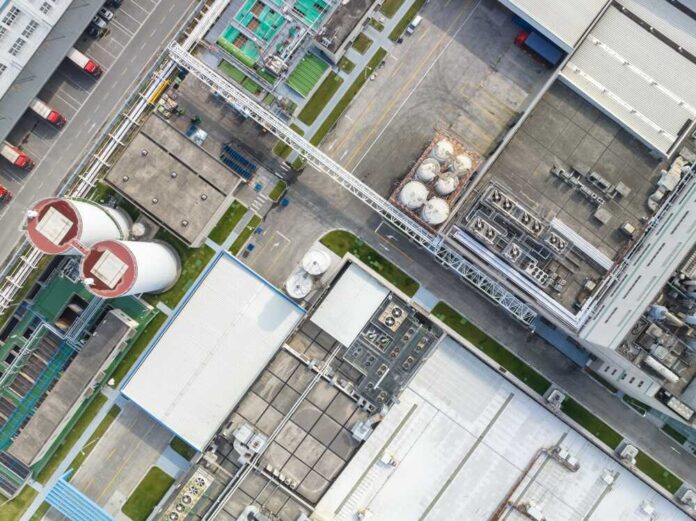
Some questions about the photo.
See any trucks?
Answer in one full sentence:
Yes, a truck can be made out from above.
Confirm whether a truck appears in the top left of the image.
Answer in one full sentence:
Yes, in the top left of the image there is a truck.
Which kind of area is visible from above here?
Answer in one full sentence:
The area seen from above is an industrial area.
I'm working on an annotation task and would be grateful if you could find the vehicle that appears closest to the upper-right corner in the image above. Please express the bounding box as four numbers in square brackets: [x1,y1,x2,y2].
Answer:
[512,29,561,67]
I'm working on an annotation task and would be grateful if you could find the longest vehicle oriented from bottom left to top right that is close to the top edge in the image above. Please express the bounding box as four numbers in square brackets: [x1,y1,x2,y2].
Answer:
[404,16,421,37]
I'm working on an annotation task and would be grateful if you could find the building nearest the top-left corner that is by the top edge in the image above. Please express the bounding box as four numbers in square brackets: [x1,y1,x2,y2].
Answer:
[0,0,109,147]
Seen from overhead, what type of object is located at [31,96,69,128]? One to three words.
truck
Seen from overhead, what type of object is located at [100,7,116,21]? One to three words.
car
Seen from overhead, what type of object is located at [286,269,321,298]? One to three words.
storage tank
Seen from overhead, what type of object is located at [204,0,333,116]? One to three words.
building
